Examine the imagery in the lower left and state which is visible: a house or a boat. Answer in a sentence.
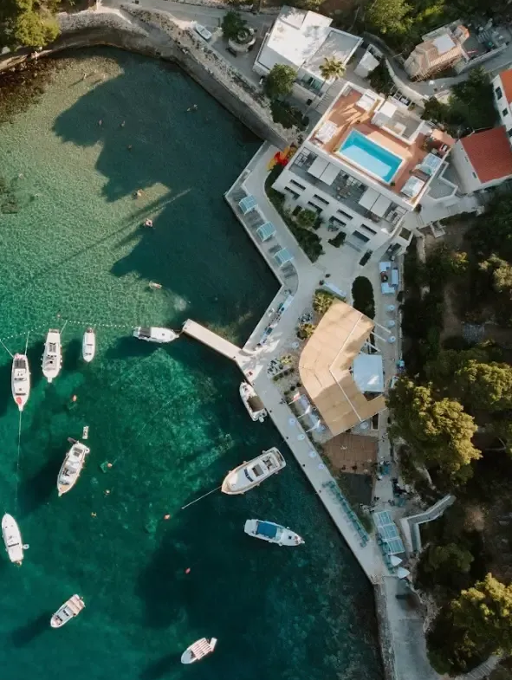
It is a boat that can be seen in the lower left.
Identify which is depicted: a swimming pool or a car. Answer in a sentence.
It is a swimming pool that can be seen here.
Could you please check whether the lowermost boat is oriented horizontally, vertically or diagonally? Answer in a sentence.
The lowermost boat runs diagonally in the image.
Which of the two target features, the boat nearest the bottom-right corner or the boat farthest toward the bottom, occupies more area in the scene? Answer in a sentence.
It is the boat nearest the bottom-right corner that is larger, not the boat farthest toward the bottom.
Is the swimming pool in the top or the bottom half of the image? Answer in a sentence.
The swimming pool sits in the top half of the picture.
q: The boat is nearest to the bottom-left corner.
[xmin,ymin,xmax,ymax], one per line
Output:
[53,593,85,625]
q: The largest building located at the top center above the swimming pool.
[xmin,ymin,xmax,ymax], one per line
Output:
[247,5,363,104]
